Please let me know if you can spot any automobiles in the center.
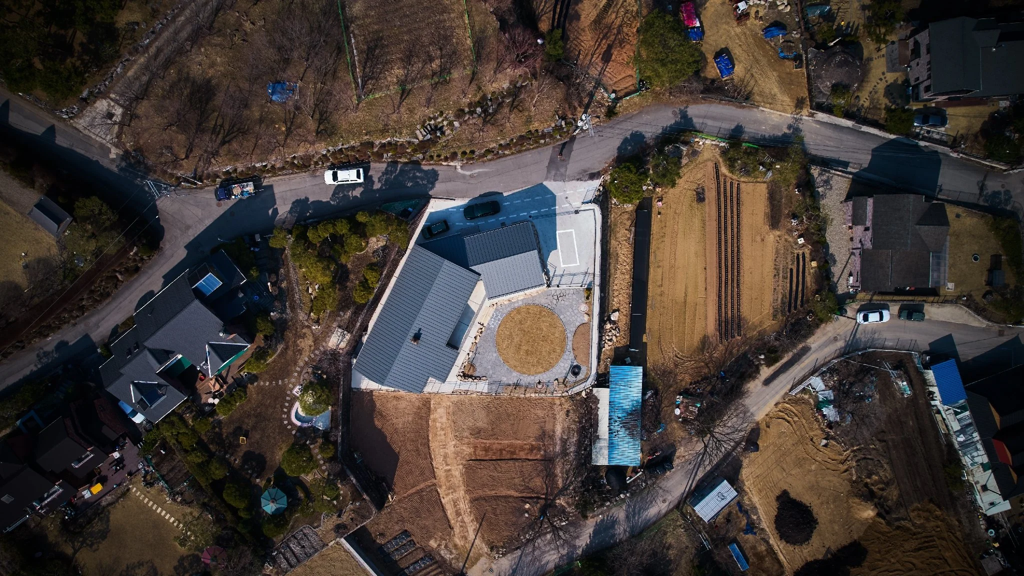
Yes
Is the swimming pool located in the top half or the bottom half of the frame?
bottom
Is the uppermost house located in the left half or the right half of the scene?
right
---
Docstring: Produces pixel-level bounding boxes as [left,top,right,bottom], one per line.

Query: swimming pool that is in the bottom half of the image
[292,385,331,430]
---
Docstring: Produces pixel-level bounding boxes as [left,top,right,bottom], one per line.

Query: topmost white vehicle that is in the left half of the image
[323,166,363,185]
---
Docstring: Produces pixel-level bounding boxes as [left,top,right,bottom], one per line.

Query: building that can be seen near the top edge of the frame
[909,17,1024,102]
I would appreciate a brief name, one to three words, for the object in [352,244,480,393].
house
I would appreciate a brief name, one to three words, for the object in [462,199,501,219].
car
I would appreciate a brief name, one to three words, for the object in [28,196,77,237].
shed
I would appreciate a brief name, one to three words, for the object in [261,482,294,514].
gazebo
